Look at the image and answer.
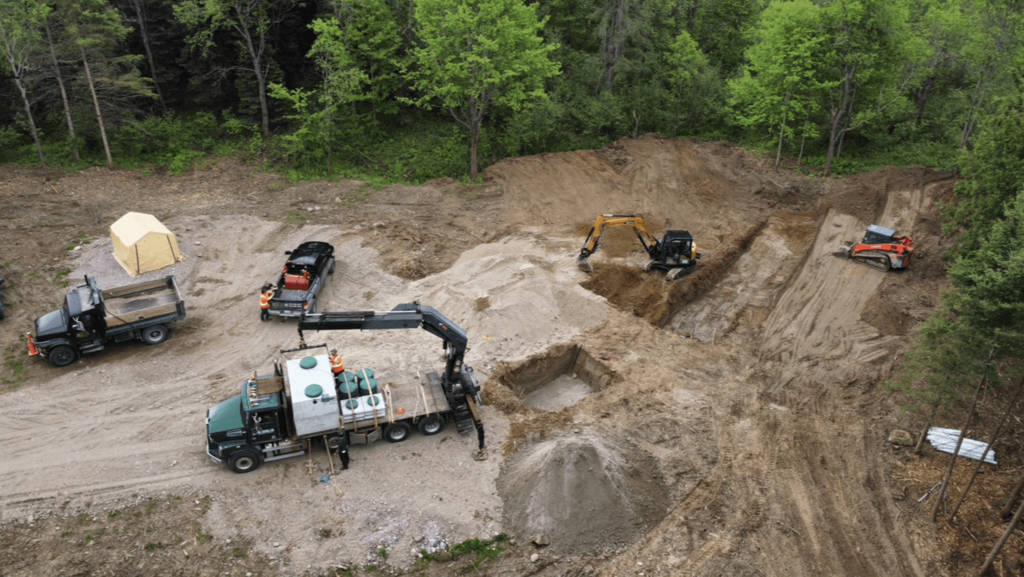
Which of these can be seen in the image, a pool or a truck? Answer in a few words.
truck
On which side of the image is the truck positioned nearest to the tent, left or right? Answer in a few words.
left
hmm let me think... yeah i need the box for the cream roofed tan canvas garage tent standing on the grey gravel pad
[109,210,188,278]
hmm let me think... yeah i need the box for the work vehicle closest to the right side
[832,218,921,272]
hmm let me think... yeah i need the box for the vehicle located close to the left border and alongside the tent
[36,273,187,369]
